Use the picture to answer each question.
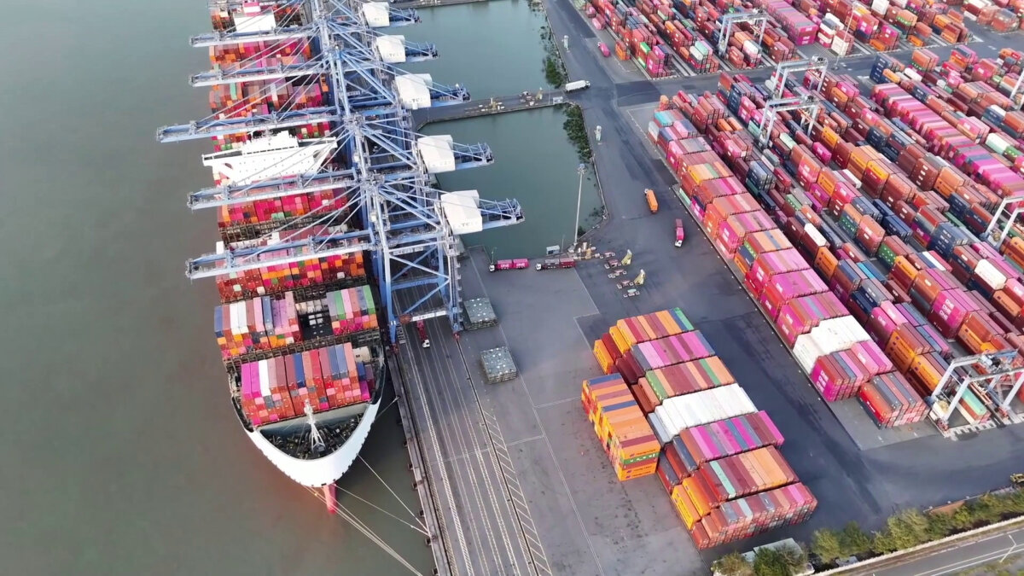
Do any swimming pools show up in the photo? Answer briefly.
No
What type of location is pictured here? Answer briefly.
port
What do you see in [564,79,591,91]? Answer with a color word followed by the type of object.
white vehicle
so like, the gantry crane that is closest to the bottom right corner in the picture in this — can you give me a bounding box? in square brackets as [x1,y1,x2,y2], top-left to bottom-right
[922,338,1024,434]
